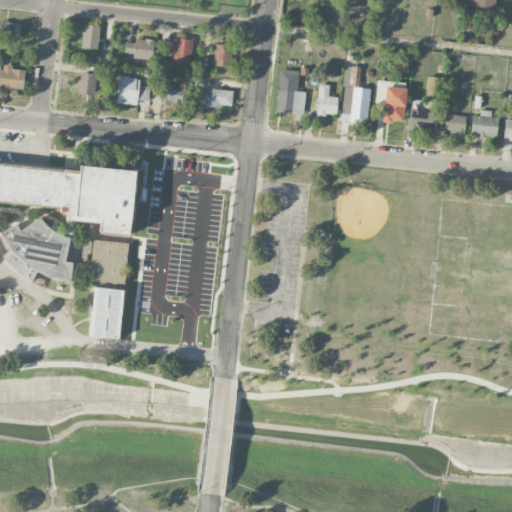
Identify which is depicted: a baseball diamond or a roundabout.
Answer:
baseball diamond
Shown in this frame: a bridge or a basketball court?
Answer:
bridge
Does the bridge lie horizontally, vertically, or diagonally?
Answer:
vertically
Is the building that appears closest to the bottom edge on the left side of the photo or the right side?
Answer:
left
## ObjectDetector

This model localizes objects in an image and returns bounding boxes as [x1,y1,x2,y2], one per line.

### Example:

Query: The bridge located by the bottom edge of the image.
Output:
[197,364,239,498]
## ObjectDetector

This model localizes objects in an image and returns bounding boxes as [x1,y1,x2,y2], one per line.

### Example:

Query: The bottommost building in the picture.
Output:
[90,286,126,340]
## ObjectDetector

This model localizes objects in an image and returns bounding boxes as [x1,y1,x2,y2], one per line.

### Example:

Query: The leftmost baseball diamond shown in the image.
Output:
[330,186,418,268]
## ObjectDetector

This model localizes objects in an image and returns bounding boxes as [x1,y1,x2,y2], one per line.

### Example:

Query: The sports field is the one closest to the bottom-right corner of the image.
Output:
[430,199,512,343]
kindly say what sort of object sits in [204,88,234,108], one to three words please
house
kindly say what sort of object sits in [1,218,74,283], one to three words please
building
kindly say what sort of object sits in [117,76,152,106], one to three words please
house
